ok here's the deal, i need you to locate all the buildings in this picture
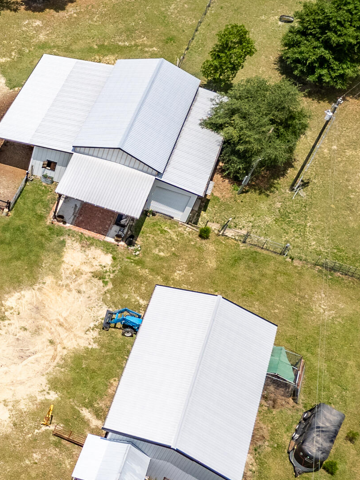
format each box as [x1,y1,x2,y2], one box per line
[101,284,278,480]
[0,55,224,245]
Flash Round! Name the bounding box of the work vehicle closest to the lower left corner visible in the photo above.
[98,313,143,342]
